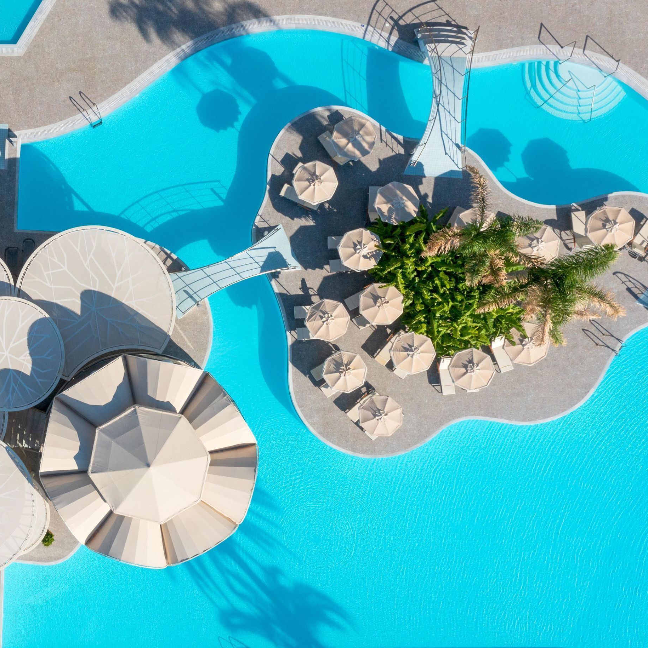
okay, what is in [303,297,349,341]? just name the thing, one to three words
umbrella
